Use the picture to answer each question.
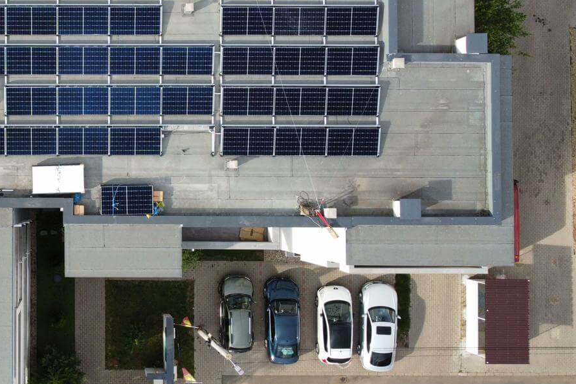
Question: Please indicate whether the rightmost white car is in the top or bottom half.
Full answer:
The bottom half of the photo is where the rightmost white car is.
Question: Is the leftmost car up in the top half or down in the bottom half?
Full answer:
The bottom half of the photo is where the leftmost car is.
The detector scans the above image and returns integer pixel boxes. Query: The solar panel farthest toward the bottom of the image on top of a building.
[102,186,153,214]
